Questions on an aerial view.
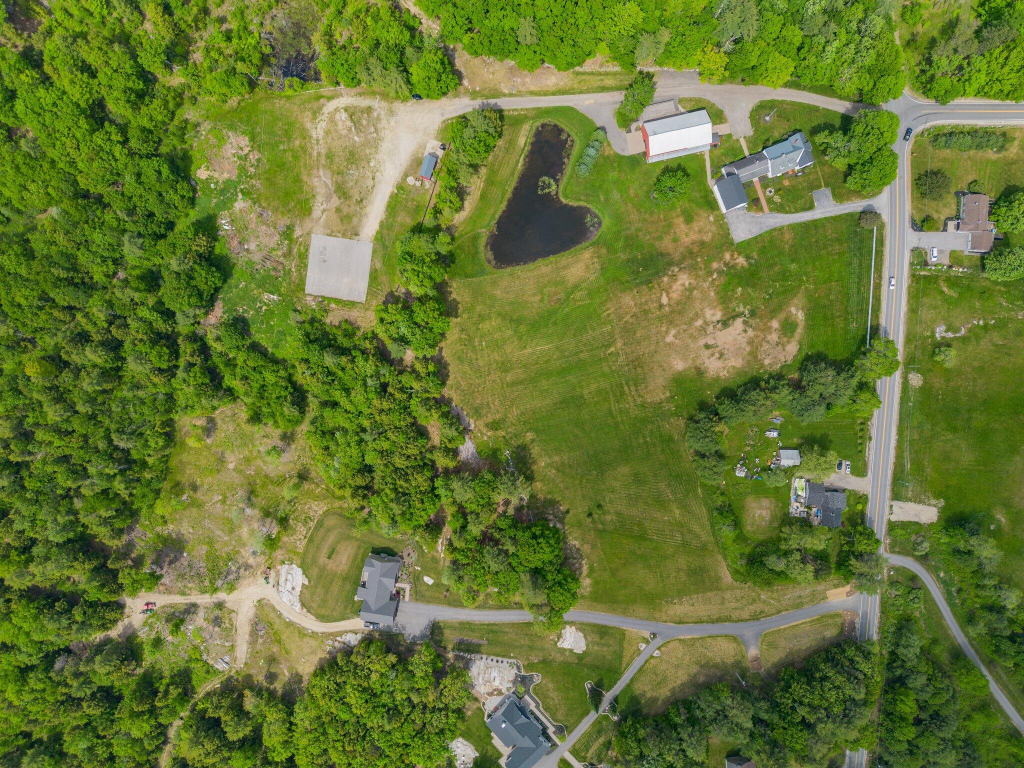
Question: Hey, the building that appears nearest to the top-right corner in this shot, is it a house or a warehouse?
house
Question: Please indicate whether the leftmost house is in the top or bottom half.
bottom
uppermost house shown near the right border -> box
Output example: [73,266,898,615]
[955,193,1004,252]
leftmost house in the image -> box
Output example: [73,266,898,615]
[355,551,402,626]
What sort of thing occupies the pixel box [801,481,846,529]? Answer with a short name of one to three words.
house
